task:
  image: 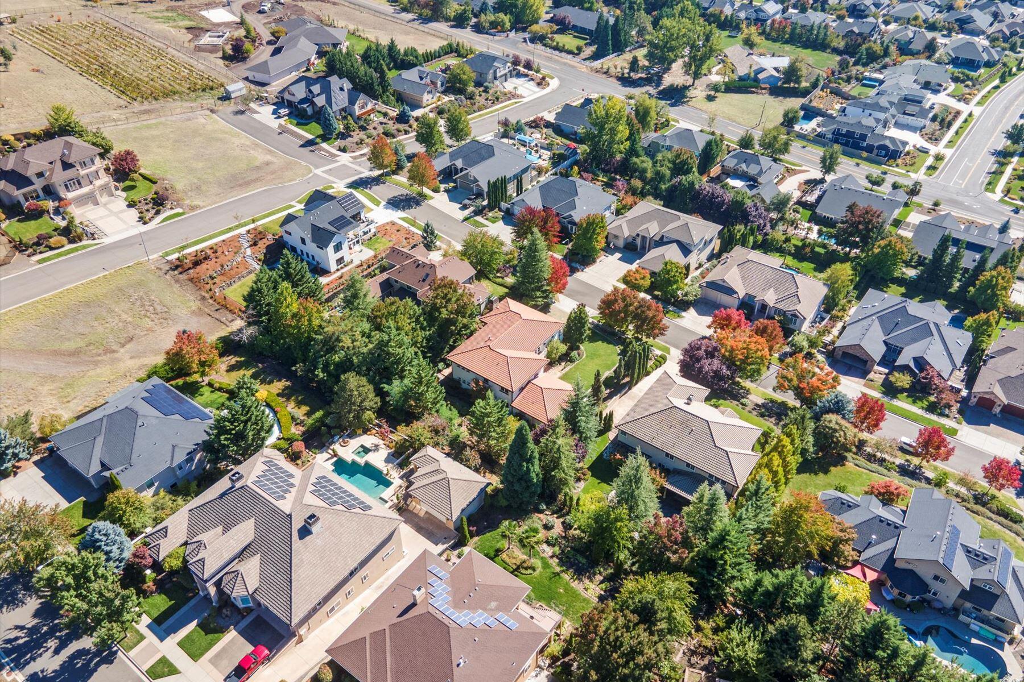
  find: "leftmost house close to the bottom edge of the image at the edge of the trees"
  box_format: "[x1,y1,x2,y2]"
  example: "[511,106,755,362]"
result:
[144,448,405,652]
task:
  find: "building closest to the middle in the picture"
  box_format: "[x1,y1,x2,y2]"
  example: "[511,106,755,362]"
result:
[445,296,576,433]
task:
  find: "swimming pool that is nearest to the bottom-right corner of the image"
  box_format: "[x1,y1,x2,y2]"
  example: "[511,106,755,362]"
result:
[919,621,1011,682]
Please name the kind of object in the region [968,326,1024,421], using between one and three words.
house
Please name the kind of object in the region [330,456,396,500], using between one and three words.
swimming pool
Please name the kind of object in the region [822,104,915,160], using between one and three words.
house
